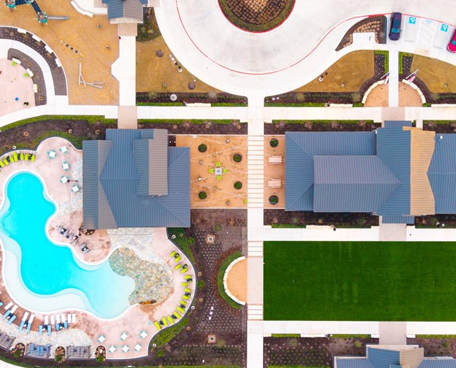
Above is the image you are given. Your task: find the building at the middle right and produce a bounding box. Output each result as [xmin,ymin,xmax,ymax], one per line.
[285,119,456,224]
